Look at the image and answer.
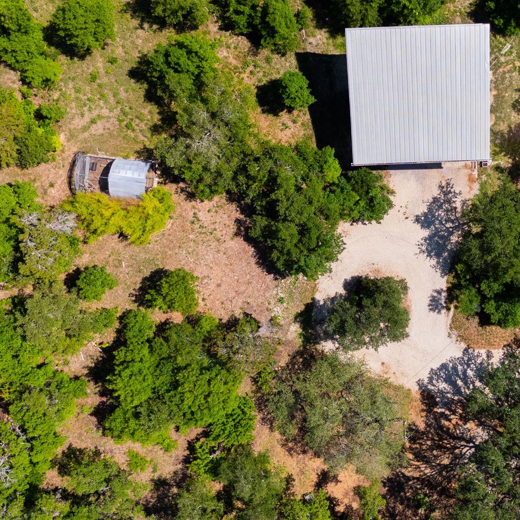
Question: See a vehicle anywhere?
No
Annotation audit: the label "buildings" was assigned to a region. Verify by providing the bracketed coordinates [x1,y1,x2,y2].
[76,155,164,201]
[345,22,493,167]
